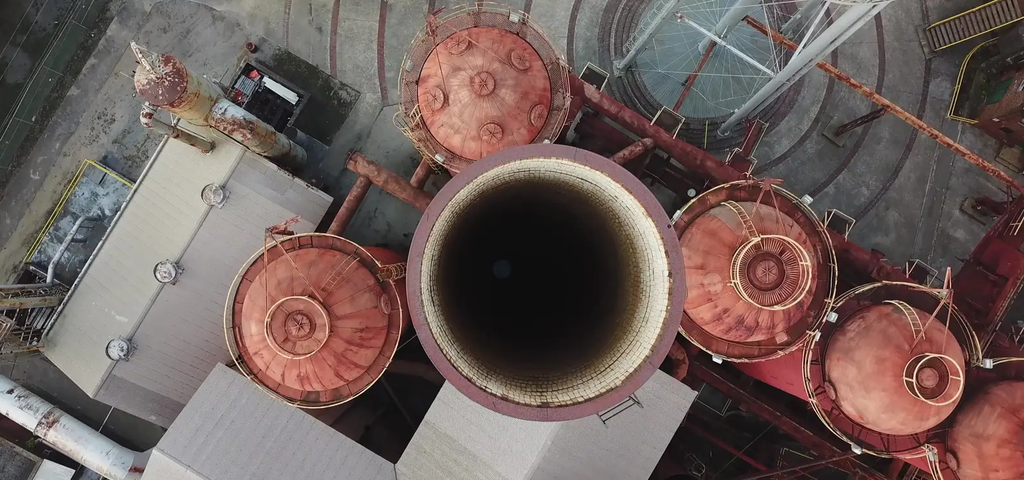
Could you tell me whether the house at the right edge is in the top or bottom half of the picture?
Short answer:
top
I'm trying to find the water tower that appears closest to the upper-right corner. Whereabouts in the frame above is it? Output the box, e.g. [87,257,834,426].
[607,0,871,141]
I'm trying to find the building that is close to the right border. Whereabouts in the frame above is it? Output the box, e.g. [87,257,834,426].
[975,67,1024,145]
